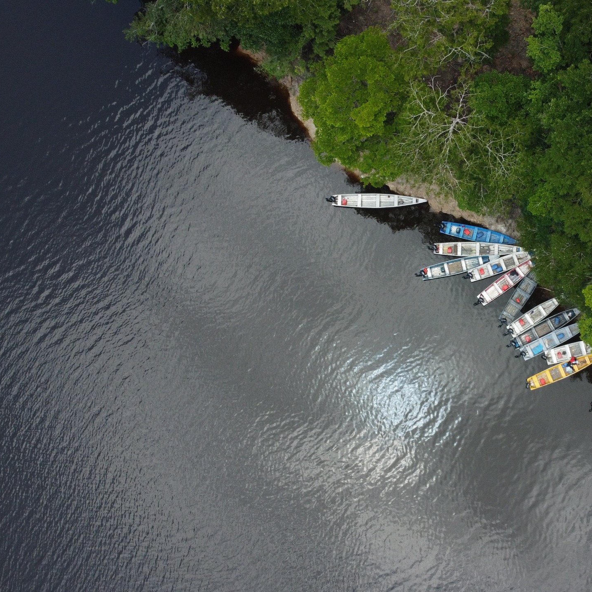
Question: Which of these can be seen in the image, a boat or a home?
boat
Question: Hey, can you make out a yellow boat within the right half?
Yes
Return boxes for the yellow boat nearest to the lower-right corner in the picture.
[526,356,592,394]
